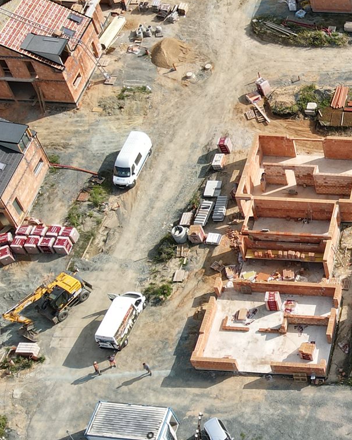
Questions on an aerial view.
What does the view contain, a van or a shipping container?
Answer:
van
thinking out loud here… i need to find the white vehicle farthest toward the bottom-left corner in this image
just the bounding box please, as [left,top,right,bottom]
[93,292,153,357]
